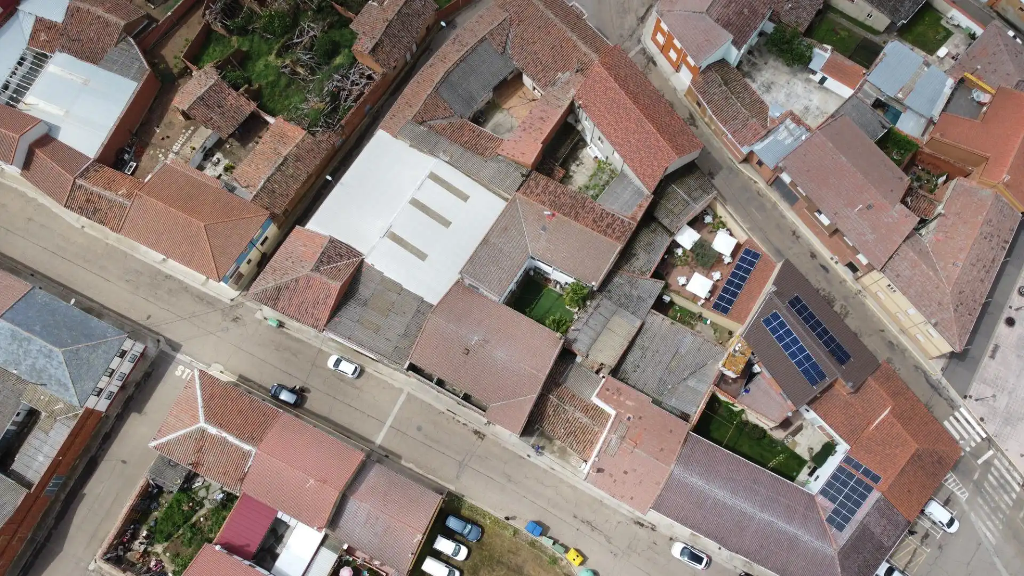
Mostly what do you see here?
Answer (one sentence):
For the most part, this view shows buildings.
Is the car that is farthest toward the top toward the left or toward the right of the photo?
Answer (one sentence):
It is on the left.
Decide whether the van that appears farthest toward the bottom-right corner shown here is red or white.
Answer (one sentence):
From above, the van that appears farthest toward the bottom-right corner appears white.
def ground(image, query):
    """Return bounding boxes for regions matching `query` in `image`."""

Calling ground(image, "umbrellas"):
[338,563,354,576]
[685,272,714,299]
[712,230,738,256]
[674,225,701,250]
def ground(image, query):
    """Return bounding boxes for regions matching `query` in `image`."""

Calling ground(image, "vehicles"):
[881,563,908,576]
[327,357,362,378]
[920,498,961,533]
[419,553,464,576]
[268,383,303,407]
[431,533,470,563]
[670,544,710,570]
[443,512,483,542]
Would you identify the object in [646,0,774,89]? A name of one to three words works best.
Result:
house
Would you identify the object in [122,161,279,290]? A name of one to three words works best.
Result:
house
